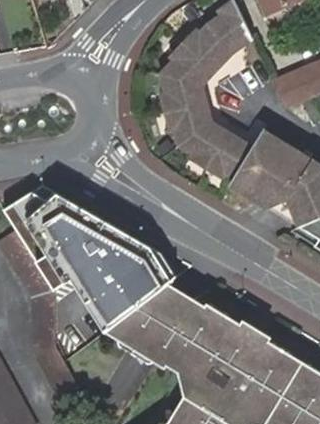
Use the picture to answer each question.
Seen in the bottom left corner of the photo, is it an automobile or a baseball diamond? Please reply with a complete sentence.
What appears in the bottom left corner of the photo is an automobile.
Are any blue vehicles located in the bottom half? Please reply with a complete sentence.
No, no blue vehicle appears in the bottom half.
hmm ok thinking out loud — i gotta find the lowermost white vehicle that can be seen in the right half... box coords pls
[242,70,258,90]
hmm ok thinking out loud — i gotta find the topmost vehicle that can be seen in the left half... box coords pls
[110,135,128,156]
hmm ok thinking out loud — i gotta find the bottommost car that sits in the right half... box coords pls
[220,92,241,108]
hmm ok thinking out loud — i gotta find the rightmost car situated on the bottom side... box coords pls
[79,314,96,334]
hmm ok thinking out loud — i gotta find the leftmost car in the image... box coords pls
[64,324,81,344]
